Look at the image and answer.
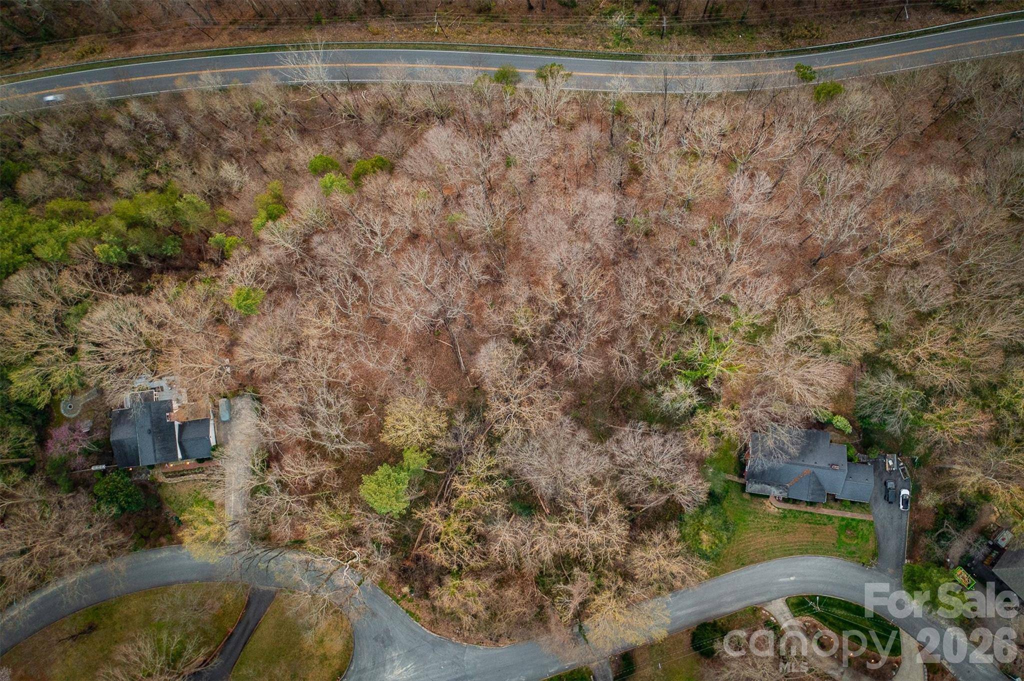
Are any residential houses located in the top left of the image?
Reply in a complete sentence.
No, I see no residential house in the top left of the image.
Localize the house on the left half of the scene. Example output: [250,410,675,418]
[110,389,217,470]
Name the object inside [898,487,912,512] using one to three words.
car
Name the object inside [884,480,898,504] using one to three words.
car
